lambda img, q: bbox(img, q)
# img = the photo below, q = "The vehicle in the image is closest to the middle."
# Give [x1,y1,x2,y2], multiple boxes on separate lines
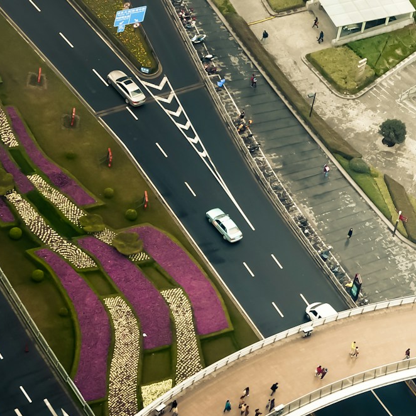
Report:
[204,209,245,243]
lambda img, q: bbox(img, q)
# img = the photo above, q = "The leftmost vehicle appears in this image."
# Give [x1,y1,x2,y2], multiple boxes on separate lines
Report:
[106,71,146,107]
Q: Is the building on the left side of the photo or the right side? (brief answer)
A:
right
